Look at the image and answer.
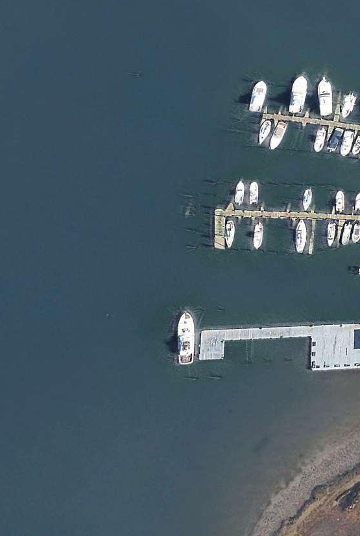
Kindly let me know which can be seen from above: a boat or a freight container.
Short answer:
boat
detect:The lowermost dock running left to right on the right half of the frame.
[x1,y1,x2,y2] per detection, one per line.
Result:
[214,202,360,255]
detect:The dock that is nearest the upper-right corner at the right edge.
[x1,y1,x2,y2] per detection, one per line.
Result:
[260,103,360,137]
